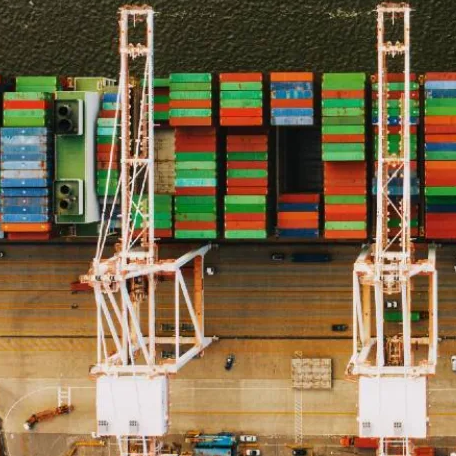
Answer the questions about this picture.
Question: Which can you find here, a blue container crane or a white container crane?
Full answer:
There is a white container crane in the scene.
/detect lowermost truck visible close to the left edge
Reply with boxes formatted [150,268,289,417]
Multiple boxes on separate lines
[20,403,73,432]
